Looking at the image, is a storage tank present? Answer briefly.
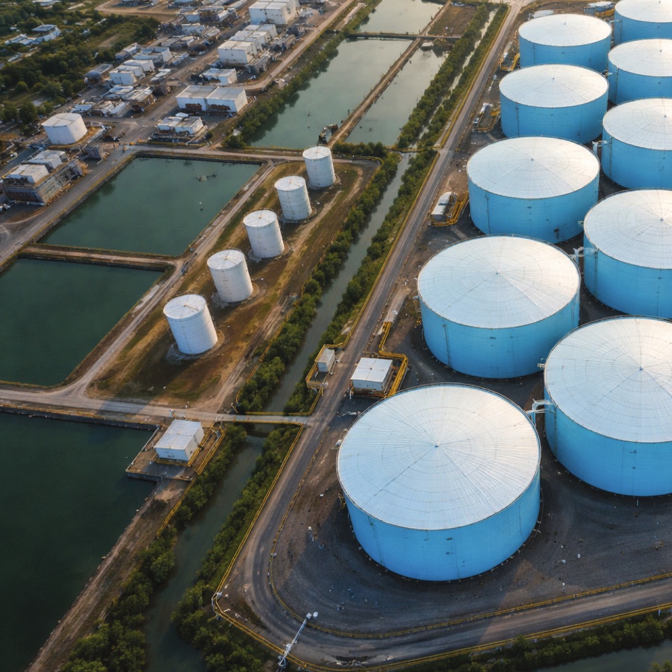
Yes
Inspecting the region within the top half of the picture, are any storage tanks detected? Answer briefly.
Yes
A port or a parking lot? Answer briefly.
port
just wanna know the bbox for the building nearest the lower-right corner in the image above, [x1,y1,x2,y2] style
[348,357,395,397]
